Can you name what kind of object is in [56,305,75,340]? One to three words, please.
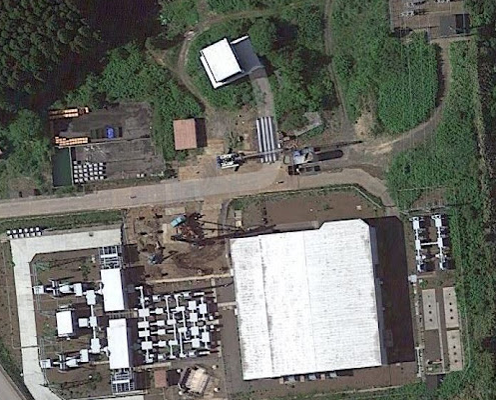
building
